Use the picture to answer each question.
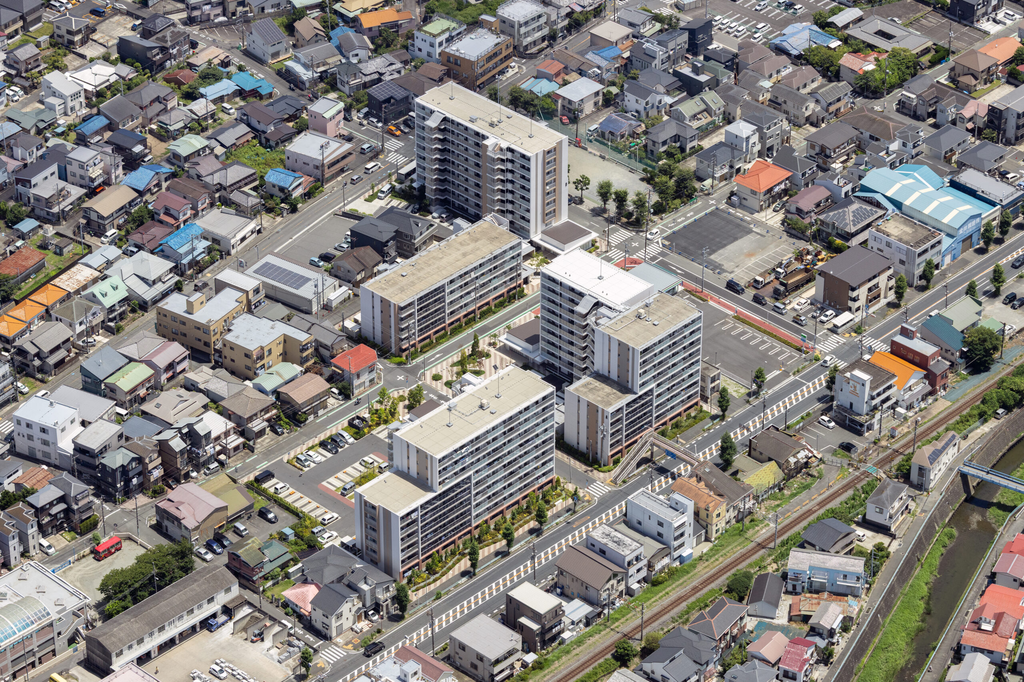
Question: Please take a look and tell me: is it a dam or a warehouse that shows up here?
warehouse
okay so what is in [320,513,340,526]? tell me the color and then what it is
white vehicle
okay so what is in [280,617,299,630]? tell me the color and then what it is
white vehicle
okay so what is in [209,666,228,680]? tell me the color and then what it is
white car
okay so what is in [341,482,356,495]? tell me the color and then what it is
gray vehicle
